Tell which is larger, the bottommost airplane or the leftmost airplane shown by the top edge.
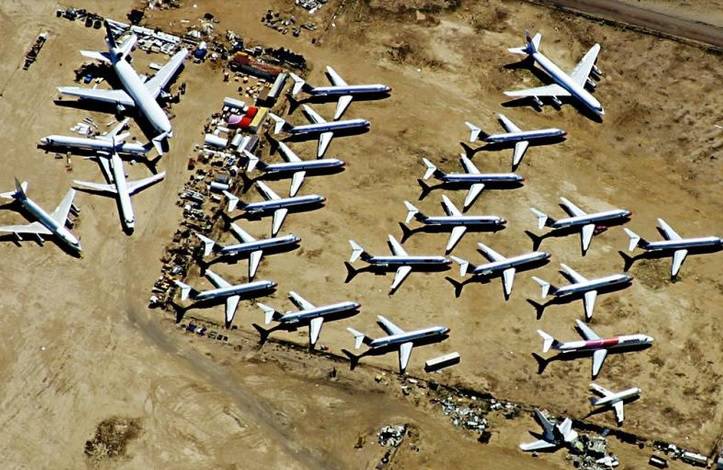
the leftmost airplane shown by the top edge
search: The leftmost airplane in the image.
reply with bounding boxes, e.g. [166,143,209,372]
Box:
[0,176,82,251]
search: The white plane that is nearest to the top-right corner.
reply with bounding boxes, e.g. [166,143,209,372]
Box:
[502,30,606,116]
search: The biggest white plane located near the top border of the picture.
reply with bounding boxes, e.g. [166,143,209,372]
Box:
[58,21,188,135]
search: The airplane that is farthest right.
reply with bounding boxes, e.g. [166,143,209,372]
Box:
[625,220,723,275]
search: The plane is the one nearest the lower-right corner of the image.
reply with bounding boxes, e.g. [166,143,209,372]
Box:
[587,383,641,423]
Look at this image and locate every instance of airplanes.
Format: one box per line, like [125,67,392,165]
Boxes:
[540,320,655,376]
[450,243,551,295]
[466,114,566,165]
[41,120,170,180]
[224,181,325,234]
[625,220,723,275]
[502,30,606,116]
[587,383,641,423]
[0,176,82,251]
[292,68,390,119]
[258,291,361,345]
[531,198,631,250]
[270,105,369,156]
[245,143,345,195]
[174,268,277,323]
[198,223,300,277]
[405,196,506,250]
[347,315,450,370]
[350,235,452,290]
[424,154,524,207]
[532,264,633,318]
[58,21,188,135]
[71,140,167,228]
